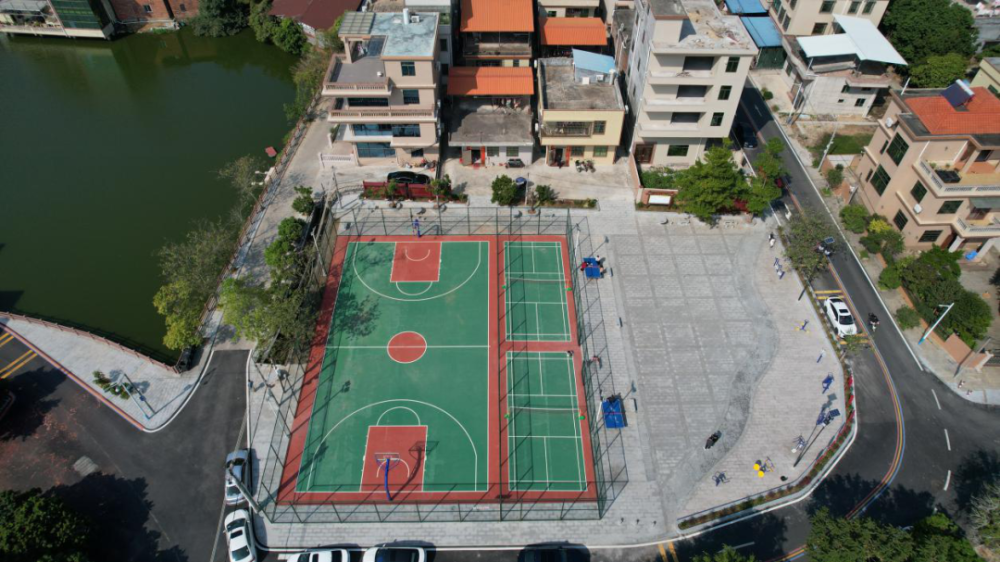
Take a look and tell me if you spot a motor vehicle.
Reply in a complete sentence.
Yes, there's a motor vehicle down there.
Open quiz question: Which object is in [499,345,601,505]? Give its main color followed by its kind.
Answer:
green sports court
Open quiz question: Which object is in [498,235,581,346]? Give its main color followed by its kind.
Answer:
green sports court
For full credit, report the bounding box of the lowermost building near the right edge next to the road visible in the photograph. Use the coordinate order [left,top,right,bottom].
[848,76,1000,263]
